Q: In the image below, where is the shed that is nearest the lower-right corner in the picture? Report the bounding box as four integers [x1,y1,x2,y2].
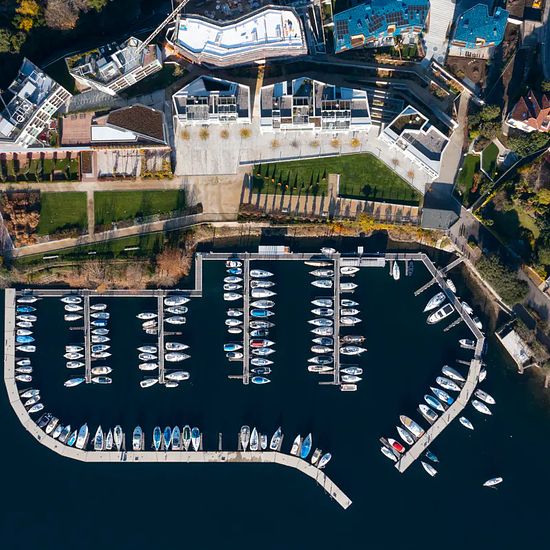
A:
[509,306,534,333]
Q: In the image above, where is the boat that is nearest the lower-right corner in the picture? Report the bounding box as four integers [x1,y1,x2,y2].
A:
[482,476,503,490]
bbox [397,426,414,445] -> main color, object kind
white boat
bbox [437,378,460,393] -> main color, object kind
white boat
